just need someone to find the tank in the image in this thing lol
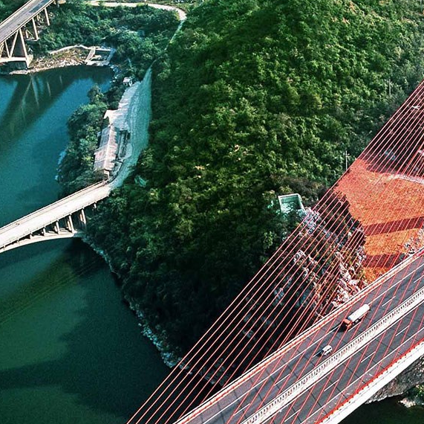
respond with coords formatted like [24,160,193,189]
[278,192,308,227]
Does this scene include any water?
Yes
